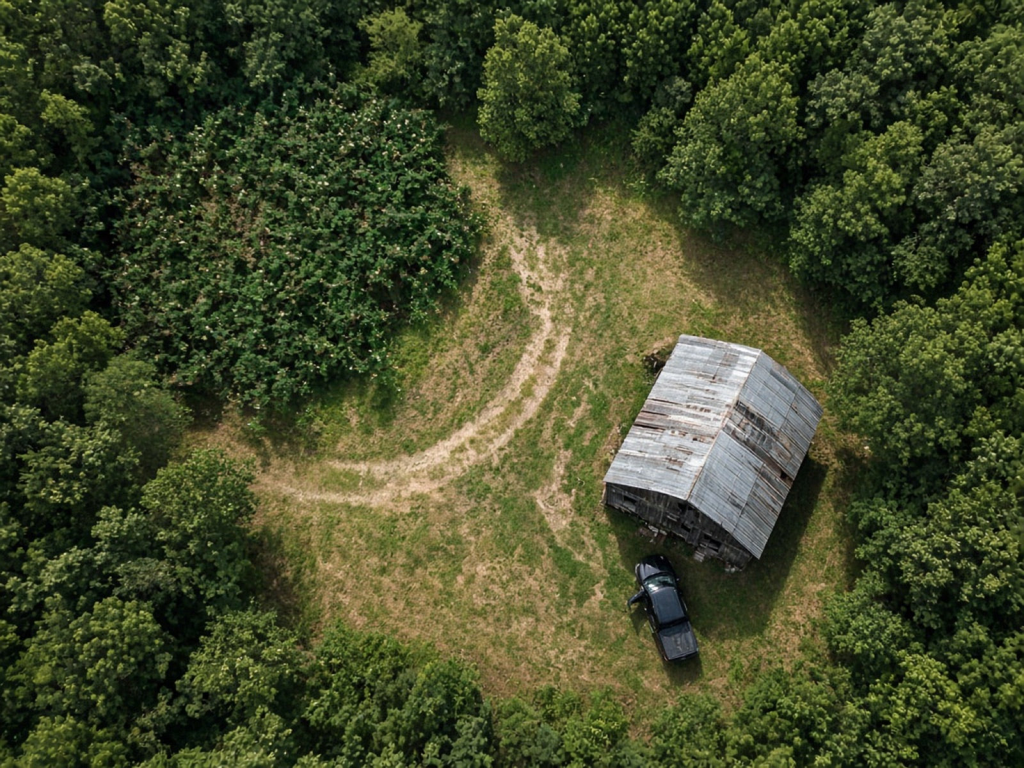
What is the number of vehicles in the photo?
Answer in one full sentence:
Just 1 vehicle appears in this view.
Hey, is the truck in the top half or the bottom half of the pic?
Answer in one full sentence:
Seen from above, the truck lies in the bottom half of the view.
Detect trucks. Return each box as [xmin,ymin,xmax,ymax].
[629,552,702,665]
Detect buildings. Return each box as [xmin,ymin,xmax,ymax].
[602,336,822,570]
